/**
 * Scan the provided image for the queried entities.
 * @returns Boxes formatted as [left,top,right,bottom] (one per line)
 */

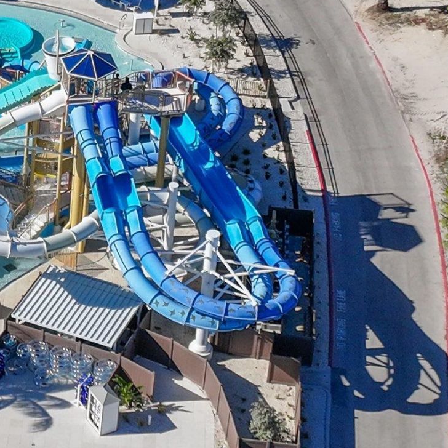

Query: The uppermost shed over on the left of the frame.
[10,263,143,378]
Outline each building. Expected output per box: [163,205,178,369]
[87,381,121,436]
[10,263,143,378]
